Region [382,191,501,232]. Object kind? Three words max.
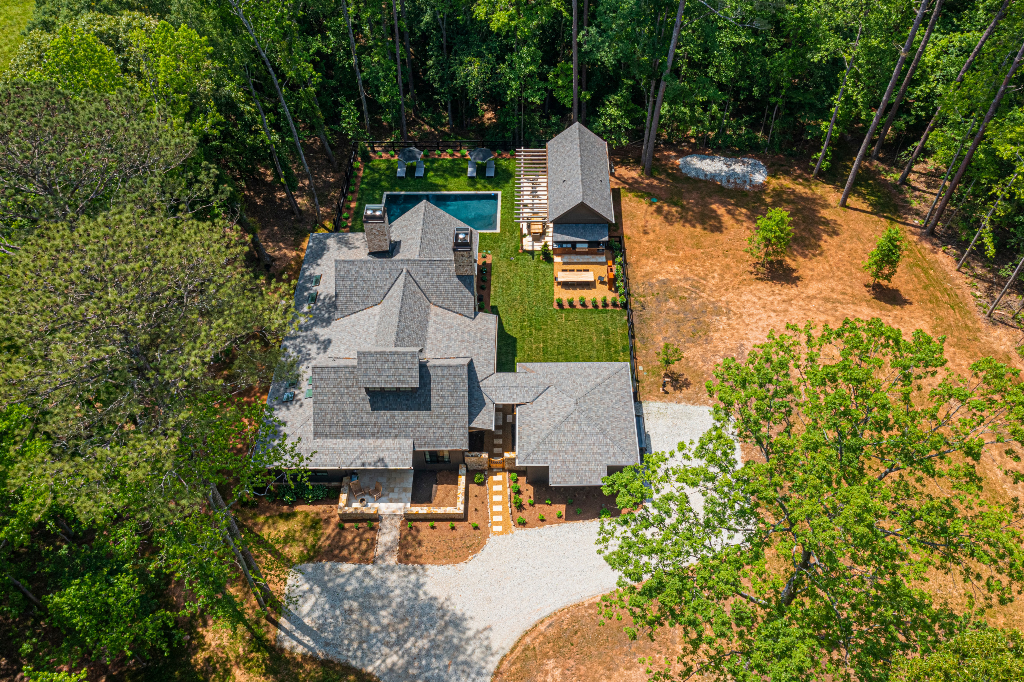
swimming pool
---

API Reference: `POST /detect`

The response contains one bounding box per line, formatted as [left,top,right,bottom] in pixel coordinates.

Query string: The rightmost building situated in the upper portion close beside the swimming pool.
[545,121,616,258]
